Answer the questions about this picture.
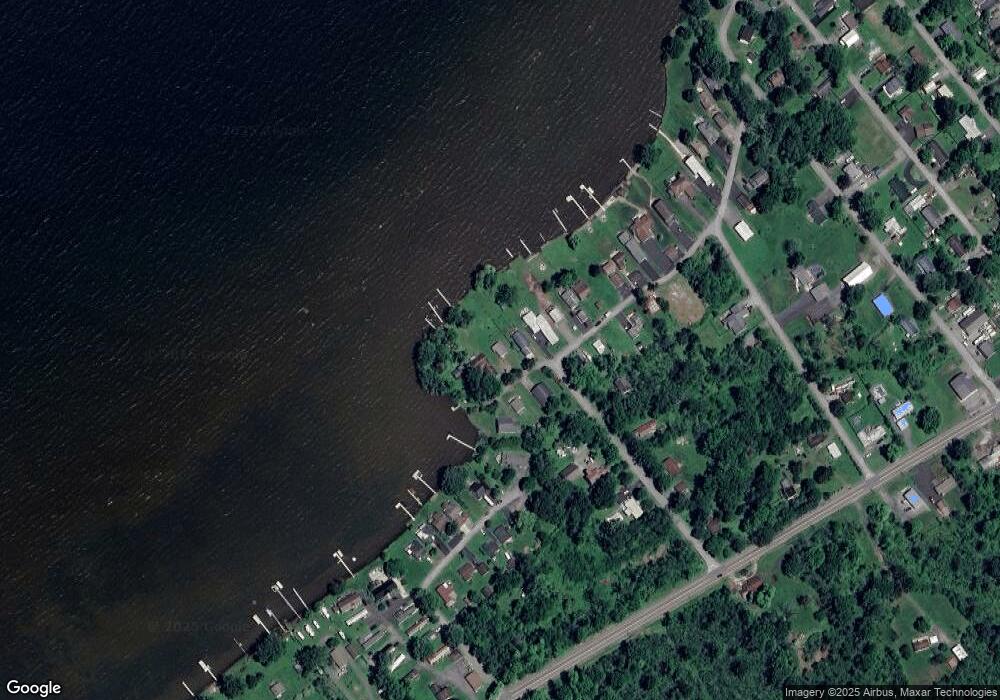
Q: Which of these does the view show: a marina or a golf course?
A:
marina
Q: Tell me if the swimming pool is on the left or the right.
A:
right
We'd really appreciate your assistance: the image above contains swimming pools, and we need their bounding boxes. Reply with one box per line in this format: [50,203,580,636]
[873,293,895,316]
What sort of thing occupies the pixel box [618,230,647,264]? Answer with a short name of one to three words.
house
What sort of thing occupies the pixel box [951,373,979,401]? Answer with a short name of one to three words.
building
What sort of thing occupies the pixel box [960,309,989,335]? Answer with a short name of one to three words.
house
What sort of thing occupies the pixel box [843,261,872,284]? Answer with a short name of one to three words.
barn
